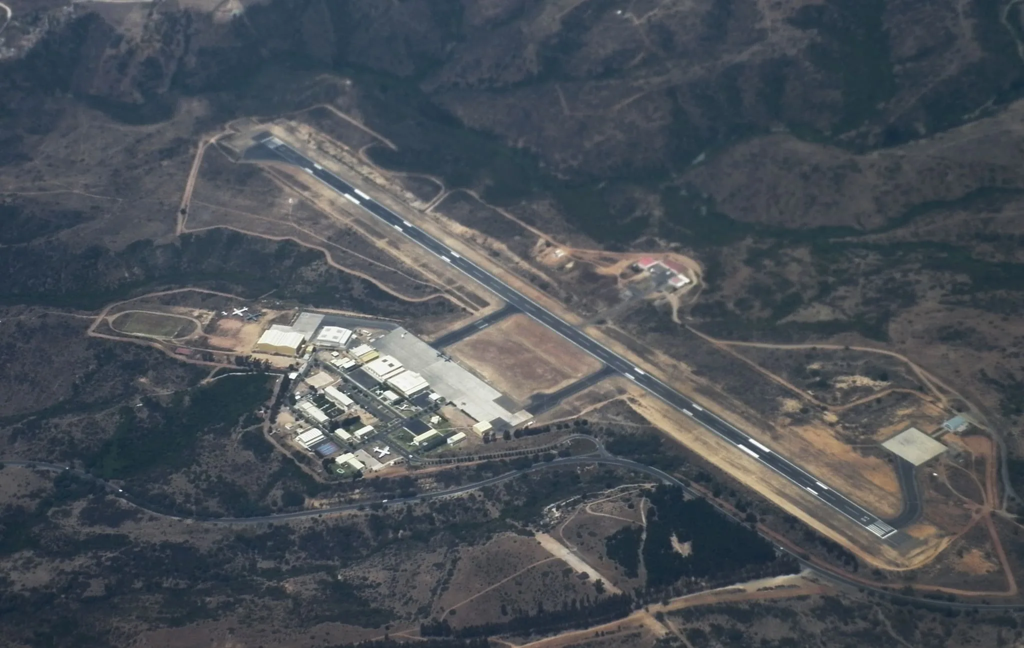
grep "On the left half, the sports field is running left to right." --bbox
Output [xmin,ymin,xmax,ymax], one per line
[122,312,197,338]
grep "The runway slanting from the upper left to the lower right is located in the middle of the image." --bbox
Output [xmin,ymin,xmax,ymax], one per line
[261,137,896,538]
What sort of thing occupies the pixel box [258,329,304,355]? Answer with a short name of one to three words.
hangar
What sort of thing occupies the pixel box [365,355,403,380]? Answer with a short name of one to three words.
hangar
